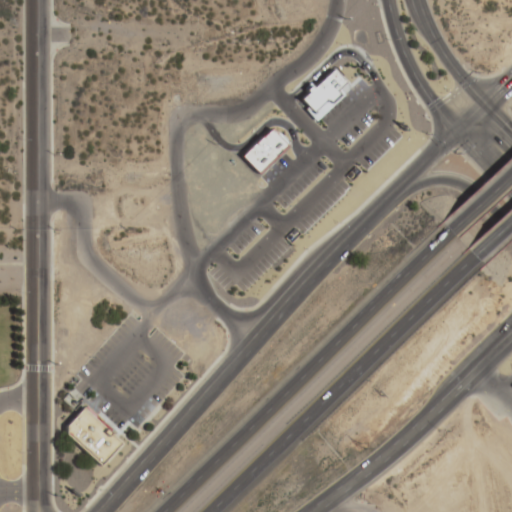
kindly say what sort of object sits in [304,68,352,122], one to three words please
building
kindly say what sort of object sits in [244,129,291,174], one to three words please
building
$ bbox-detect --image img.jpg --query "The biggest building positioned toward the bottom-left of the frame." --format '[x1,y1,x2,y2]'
[68,406,125,465]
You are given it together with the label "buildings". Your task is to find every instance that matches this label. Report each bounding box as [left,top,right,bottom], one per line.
[68,406,125,465]
[304,68,352,122]
[244,129,291,174]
